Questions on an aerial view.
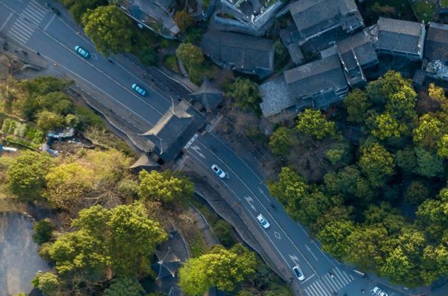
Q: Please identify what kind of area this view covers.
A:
residential area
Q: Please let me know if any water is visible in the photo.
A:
No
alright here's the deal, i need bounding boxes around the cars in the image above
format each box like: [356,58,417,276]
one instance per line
[373,286,389,296]
[292,265,304,281]
[256,213,270,228]
[211,163,227,178]
[74,44,88,58]
[131,82,147,96]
